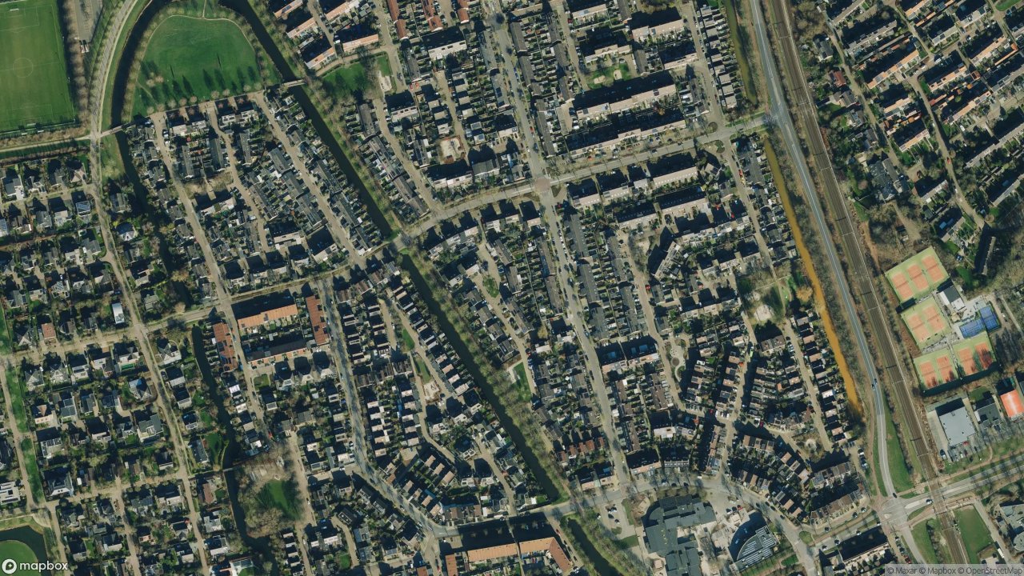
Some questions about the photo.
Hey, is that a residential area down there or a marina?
residential area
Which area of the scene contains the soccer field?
top left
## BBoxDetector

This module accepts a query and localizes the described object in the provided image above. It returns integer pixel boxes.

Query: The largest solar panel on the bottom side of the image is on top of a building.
[743,529,775,567]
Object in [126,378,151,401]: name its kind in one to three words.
house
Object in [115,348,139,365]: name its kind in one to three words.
house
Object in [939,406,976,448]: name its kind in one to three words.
building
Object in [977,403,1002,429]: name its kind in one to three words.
building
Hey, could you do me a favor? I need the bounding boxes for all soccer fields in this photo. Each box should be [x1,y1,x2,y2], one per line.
[0,0,71,132]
